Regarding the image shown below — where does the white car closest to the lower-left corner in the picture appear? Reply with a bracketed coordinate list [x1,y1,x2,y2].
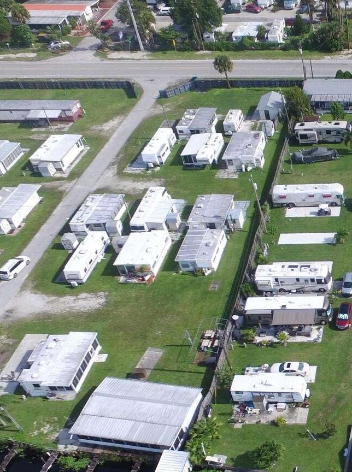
[0,257,34,281]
